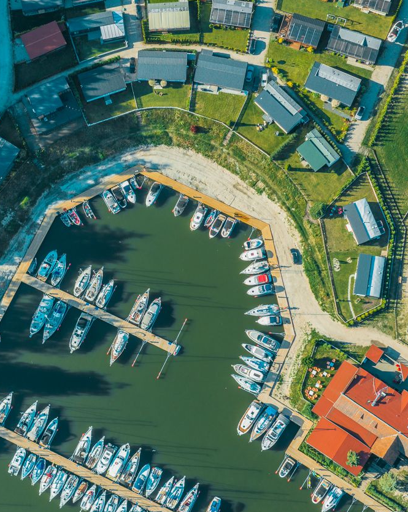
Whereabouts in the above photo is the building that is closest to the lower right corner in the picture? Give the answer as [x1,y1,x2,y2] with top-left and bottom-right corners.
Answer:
[306,360,408,475]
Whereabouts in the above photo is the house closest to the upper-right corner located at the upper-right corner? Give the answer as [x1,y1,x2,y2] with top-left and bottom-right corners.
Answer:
[351,0,392,20]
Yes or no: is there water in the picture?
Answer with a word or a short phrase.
Yes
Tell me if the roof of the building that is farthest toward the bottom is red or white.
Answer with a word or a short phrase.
red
